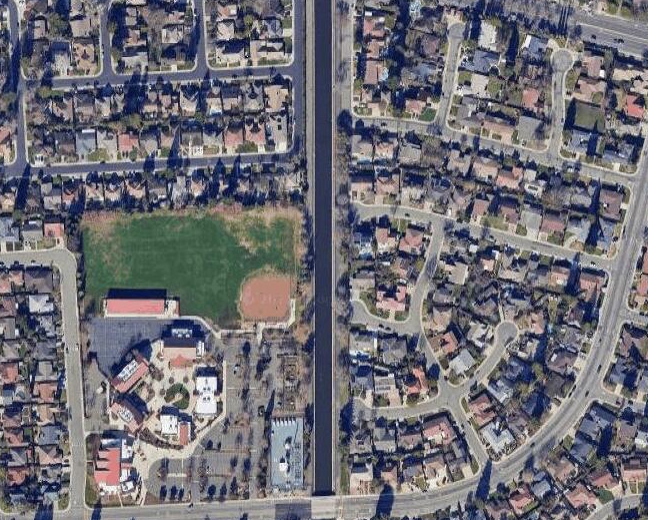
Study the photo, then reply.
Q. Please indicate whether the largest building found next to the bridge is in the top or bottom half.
bottom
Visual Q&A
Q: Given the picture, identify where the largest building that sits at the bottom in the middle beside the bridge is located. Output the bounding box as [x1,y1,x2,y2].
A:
[272,418,304,490]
